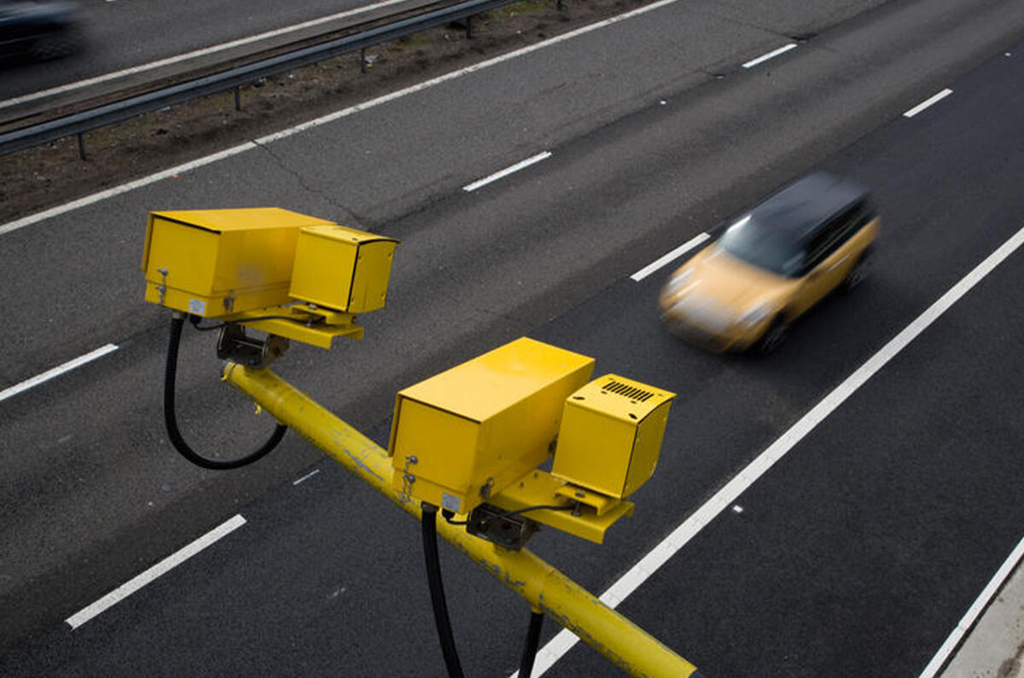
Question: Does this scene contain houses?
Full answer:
No, there's no house here.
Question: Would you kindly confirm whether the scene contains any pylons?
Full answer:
No, there isn't any pylon down there.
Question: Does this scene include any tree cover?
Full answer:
No, tree cover can't be seen anywhere here.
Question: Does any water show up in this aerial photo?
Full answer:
No, the picture contains no water.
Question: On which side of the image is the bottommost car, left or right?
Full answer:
It is on the right.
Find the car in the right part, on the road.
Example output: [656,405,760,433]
[656,167,884,357]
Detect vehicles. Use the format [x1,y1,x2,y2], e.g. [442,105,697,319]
[656,167,884,357]
[0,0,84,62]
